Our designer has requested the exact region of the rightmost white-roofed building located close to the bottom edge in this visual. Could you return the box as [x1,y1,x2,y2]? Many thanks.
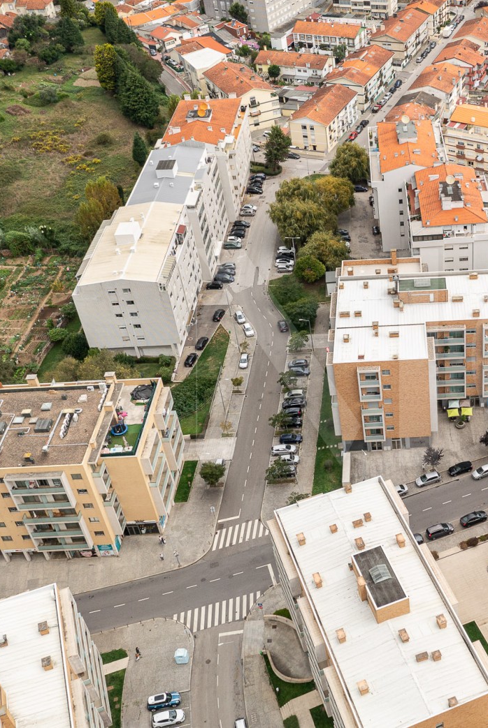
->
[263,476,488,728]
